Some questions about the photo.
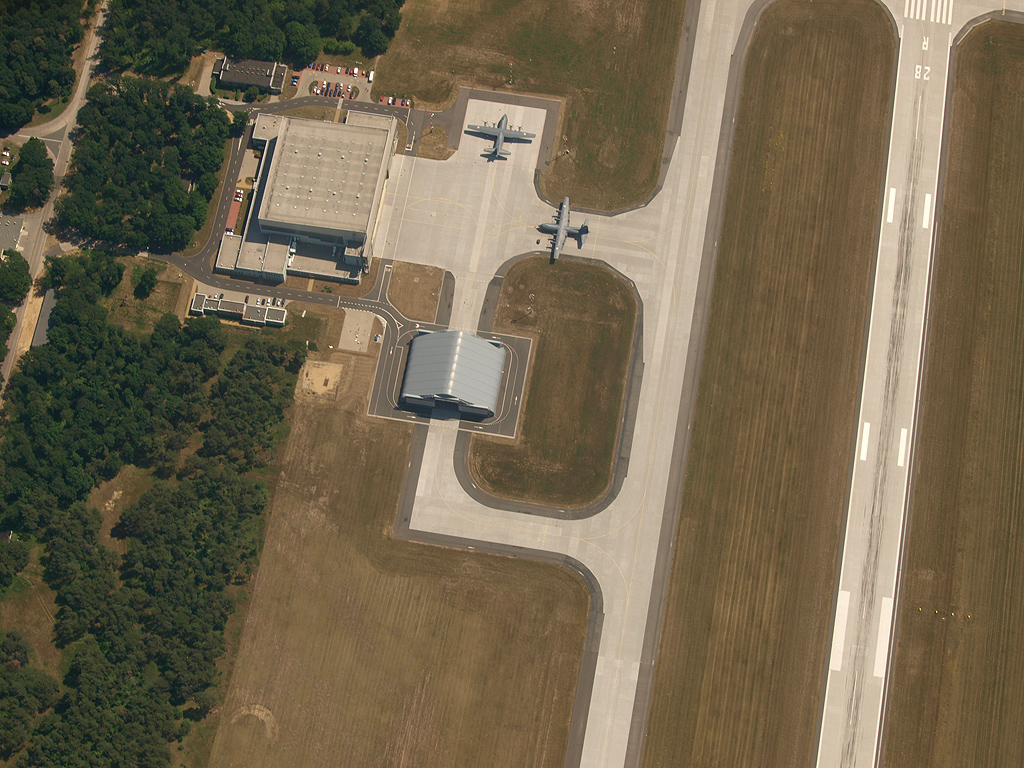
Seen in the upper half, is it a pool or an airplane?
airplane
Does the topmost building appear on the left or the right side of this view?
left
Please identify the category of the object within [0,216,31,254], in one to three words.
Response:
building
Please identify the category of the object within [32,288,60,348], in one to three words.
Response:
shed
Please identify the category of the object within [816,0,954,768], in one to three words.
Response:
runway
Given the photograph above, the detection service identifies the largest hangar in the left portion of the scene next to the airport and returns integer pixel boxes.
[216,110,398,284]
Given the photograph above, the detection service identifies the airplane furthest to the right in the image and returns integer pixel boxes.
[540,196,592,259]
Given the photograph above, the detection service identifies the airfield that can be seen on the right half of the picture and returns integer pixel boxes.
[372,0,1024,768]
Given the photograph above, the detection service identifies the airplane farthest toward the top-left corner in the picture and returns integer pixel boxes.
[467,115,537,157]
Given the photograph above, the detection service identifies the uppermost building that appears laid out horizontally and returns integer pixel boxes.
[213,56,288,95]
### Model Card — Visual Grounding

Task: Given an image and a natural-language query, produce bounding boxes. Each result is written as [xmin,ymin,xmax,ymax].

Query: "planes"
[467,115,537,157]
[540,196,592,259]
